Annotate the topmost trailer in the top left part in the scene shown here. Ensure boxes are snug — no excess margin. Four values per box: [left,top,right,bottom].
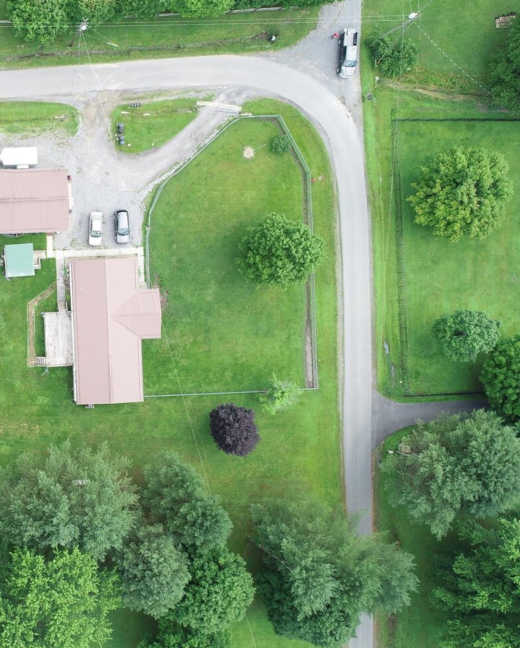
[0,146,39,169]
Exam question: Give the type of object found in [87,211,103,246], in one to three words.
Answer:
car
